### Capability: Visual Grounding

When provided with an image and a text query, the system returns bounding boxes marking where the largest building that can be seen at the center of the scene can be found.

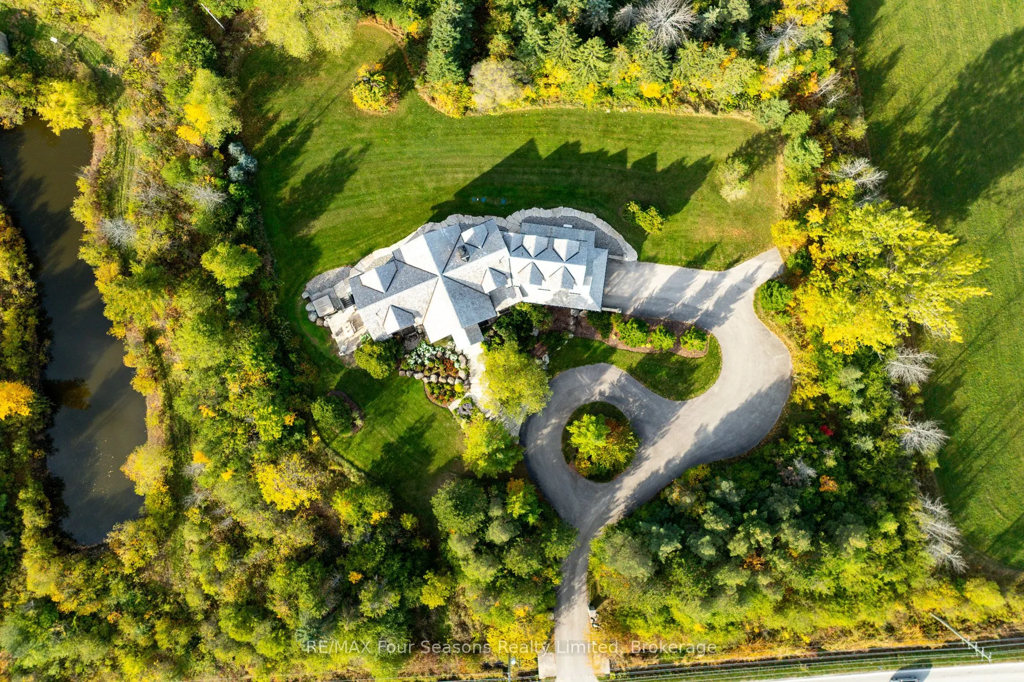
[349,219,609,351]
